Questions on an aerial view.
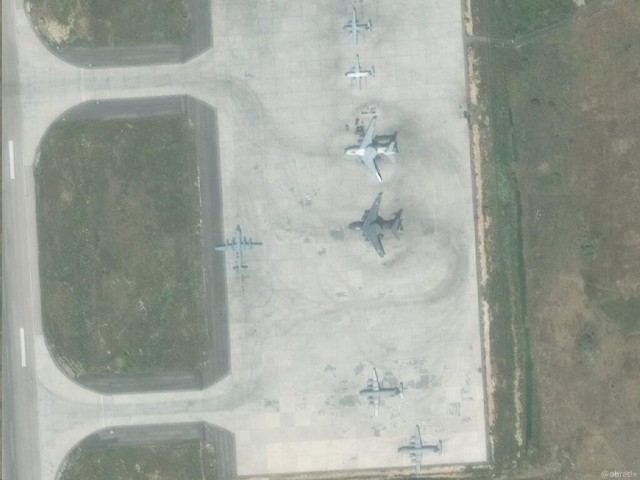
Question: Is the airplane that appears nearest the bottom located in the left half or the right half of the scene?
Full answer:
You can find the airplane that appears nearest the bottom on the right side of the picture.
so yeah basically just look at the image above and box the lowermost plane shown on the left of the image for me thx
[214,226,262,273]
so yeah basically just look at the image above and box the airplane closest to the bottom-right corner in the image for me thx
[398,427,447,473]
